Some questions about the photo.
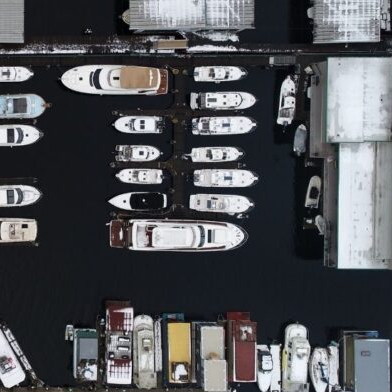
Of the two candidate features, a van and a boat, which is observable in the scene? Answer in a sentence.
Looking from above, you can make out a boat.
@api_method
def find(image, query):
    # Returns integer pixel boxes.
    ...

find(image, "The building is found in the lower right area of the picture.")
[339,329,391,392]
